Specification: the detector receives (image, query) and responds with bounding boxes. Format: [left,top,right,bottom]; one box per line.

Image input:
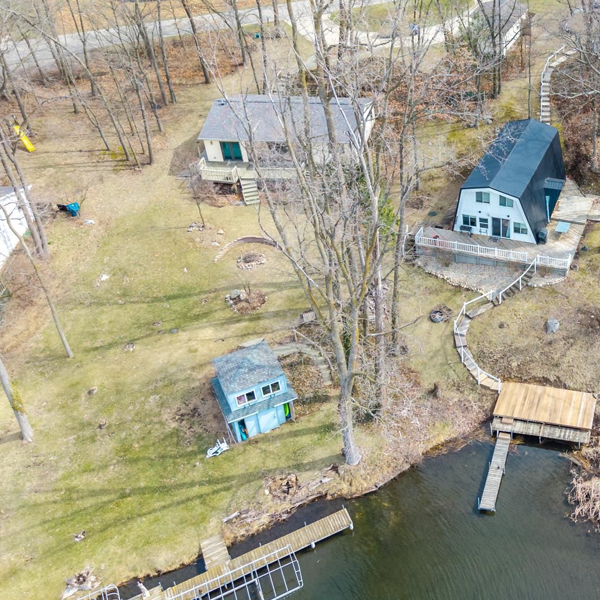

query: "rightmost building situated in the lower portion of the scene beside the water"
[491,383,596,456]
